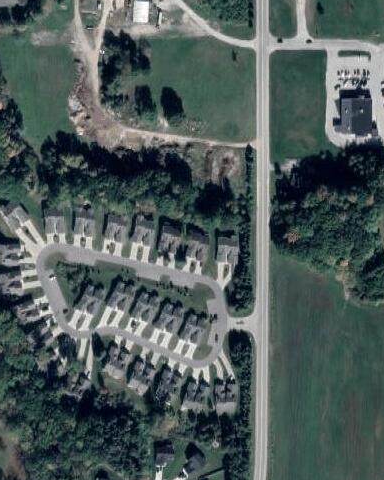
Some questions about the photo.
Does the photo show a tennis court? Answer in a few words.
No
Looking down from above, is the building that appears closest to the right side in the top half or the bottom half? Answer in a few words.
top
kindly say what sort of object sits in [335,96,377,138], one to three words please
building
